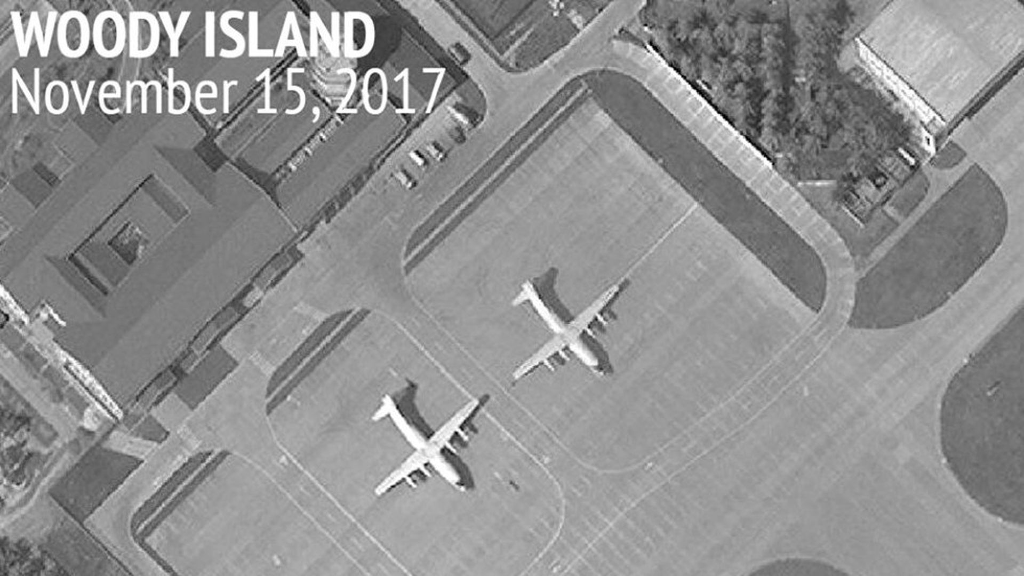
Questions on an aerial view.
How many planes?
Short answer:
2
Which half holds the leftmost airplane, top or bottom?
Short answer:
bottom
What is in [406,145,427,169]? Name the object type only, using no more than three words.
truck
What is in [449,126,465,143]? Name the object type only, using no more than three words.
car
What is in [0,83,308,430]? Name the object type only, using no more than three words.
building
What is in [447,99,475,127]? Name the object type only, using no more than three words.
bus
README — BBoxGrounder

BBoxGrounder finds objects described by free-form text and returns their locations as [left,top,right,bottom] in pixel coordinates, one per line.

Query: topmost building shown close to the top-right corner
[854,0,1024,139]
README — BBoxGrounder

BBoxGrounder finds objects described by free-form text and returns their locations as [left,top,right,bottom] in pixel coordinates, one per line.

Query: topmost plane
[510,277,619,379]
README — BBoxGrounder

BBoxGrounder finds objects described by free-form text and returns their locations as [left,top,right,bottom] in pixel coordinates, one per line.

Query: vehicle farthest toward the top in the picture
[447,40,469,65]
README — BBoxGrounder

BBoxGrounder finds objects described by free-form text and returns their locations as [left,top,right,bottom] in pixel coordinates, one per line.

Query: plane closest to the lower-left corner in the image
[371,390,480,492]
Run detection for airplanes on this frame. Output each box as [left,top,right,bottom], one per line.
[510,277,619,379]
[371,390,480,492]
